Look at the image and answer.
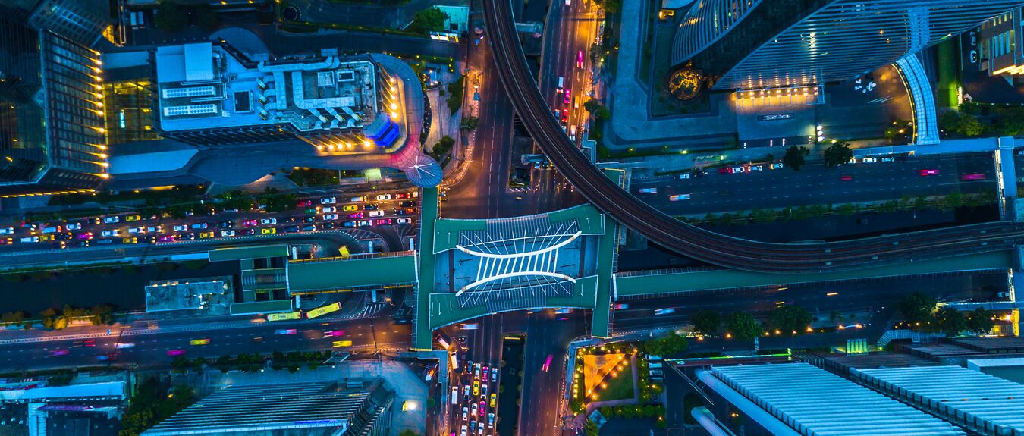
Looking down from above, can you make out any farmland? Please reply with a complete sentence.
No, no farmland is visible.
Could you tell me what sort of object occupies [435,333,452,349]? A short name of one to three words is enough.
vehicle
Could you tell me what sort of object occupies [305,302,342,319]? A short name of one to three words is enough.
vehicle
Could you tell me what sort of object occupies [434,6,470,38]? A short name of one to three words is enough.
building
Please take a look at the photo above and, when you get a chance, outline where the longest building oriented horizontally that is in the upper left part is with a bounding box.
[154,41,394,147]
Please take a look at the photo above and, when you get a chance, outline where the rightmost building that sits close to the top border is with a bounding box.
[970,9,1024,76]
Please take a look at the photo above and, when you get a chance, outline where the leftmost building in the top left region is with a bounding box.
[0,0,112,197]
